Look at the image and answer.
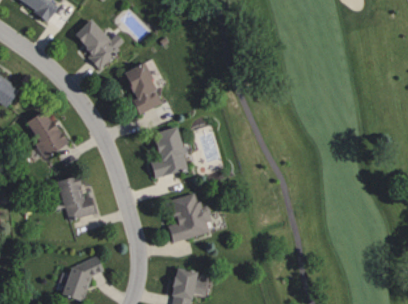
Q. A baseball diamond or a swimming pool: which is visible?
swimming pool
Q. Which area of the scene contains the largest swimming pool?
center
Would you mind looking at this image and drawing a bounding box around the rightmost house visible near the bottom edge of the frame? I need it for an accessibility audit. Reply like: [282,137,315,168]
[172,268,207,304]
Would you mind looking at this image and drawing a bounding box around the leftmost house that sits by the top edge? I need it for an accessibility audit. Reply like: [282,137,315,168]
[16,0,59,23]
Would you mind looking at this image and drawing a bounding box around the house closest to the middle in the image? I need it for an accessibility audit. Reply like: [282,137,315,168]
[150,127,190,178]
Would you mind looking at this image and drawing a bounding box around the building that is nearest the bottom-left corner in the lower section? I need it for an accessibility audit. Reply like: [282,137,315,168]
[64,258,104,301]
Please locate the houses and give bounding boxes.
[0,82,16,109]
[16,0,59,23]
[172,268,207,304]
[125,64,168,114]
[76,20,126,70]
[150,127,190,178]
[58,177,97,220]
[168,194,212,243]
[28,113,68,161]
[64,258,104,301]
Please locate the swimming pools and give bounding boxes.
[191,125,223,176]
[115,9,150,42]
